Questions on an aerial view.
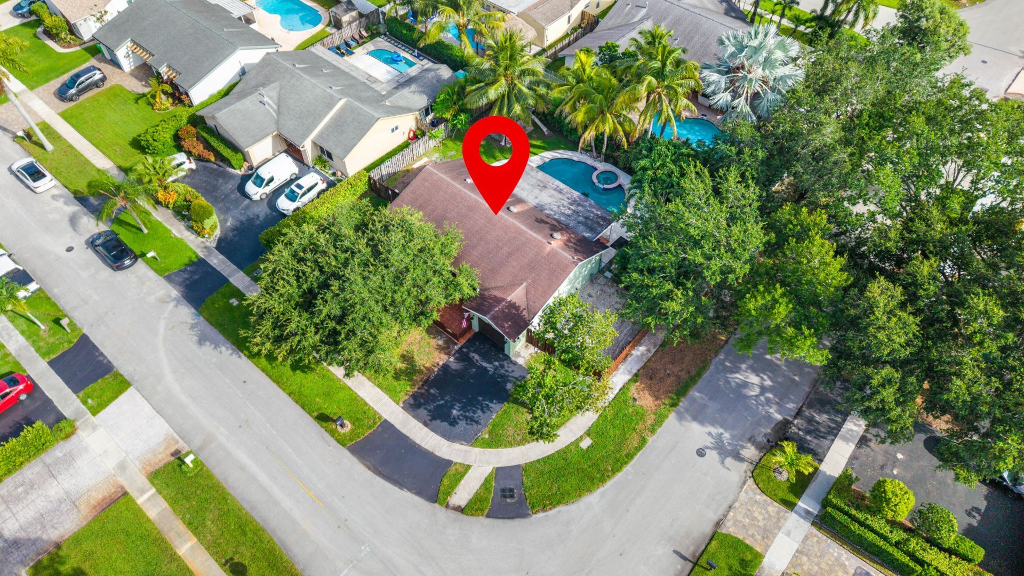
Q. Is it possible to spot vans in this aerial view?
Yes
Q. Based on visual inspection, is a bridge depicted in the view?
No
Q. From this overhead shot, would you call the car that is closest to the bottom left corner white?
No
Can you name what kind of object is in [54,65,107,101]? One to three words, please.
car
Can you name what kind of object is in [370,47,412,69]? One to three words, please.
swimming pool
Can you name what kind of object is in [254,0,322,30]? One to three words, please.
swimming pool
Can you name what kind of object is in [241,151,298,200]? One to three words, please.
van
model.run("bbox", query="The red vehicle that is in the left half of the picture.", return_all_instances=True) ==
[0,374,32,418]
